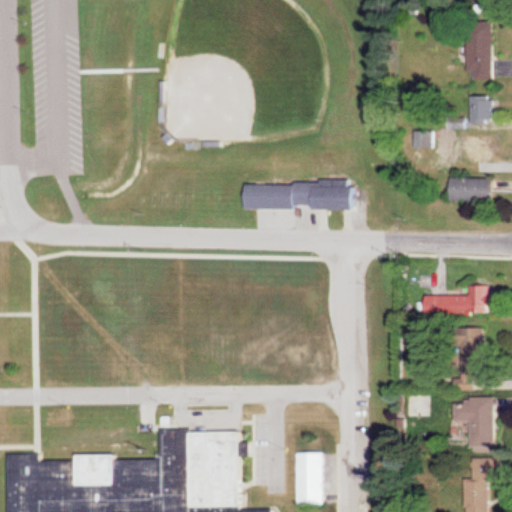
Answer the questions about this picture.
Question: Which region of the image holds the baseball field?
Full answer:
Look in the top portion of the view to spot the baseball field.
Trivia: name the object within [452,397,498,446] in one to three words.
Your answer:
house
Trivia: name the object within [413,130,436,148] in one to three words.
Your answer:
shed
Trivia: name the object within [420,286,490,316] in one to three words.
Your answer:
house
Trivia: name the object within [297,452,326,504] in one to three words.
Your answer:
building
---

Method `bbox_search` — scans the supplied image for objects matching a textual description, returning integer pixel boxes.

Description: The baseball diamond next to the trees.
[160,0,326,142]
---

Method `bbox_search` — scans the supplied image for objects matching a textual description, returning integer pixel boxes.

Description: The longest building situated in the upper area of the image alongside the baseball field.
[242,178,356,210]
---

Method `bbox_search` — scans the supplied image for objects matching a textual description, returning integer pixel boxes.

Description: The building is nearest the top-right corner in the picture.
[466,22,496,80]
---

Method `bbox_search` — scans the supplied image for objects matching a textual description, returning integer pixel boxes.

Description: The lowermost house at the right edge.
[463,459,494,512]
